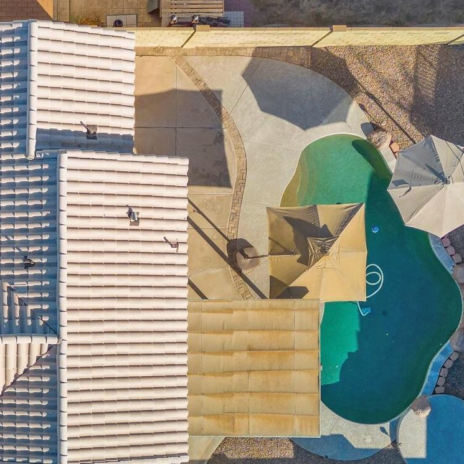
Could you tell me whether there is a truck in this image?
No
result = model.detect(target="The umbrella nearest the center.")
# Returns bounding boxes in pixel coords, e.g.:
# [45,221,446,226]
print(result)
[229,204,366,302]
